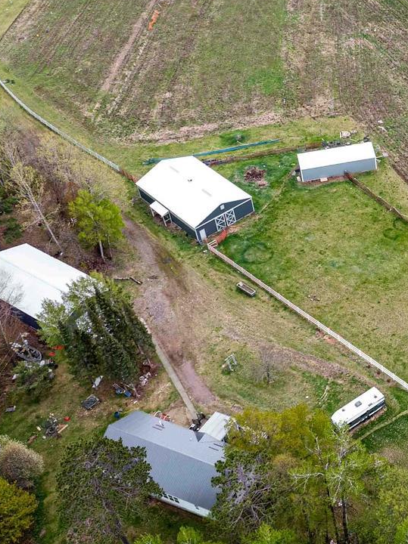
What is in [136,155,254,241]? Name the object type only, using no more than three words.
barn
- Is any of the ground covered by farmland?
Yes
